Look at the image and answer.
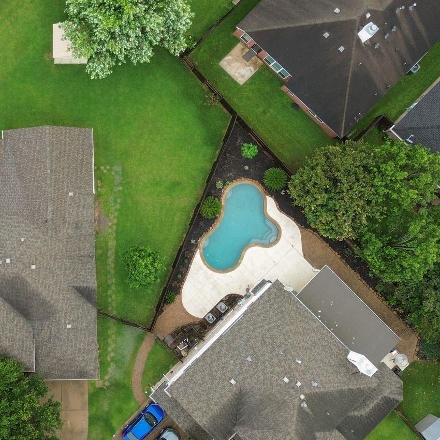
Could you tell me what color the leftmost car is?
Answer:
blue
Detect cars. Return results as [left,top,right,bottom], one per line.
[120,404,168,440]
[156,428,184,440]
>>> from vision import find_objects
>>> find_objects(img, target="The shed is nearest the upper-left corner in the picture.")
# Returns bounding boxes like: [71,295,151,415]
[53,24,88,62]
